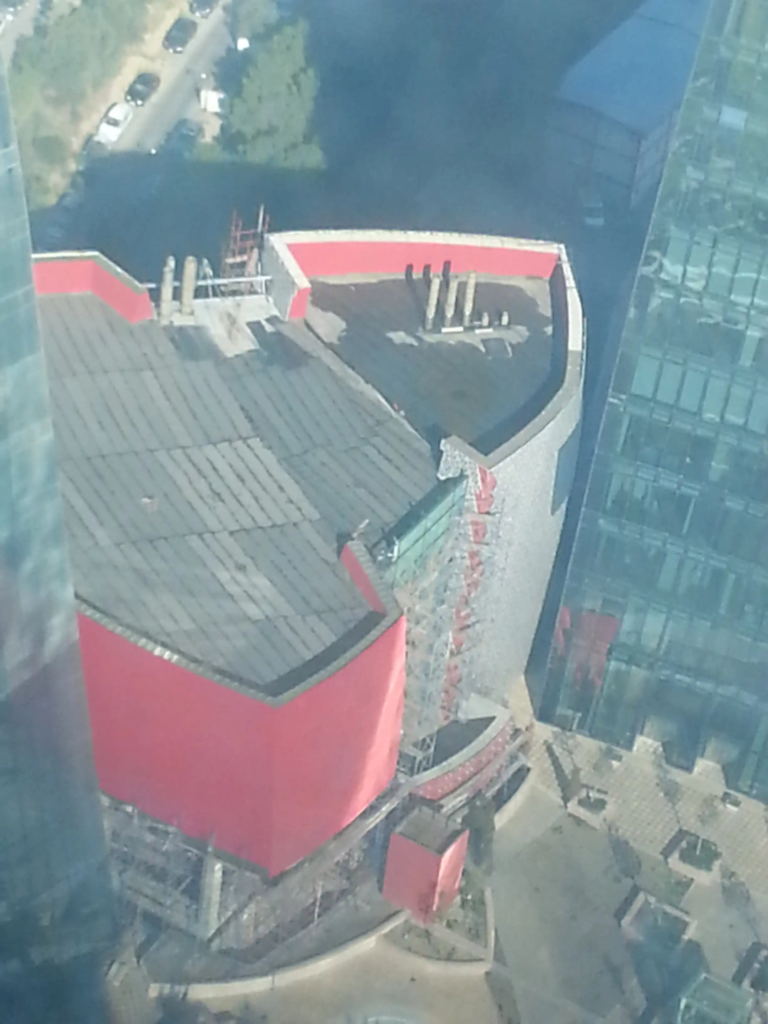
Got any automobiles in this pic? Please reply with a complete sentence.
Yes, there's an automobile down there.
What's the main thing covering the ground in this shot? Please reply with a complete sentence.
For the most part, this view shows buildings.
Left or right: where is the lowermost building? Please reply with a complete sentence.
The lowermost building is on the right side of the image.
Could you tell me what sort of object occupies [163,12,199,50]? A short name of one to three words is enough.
car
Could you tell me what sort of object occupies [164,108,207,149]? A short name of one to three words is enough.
car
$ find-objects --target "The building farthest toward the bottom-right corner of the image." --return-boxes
[671,973,754,1024]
